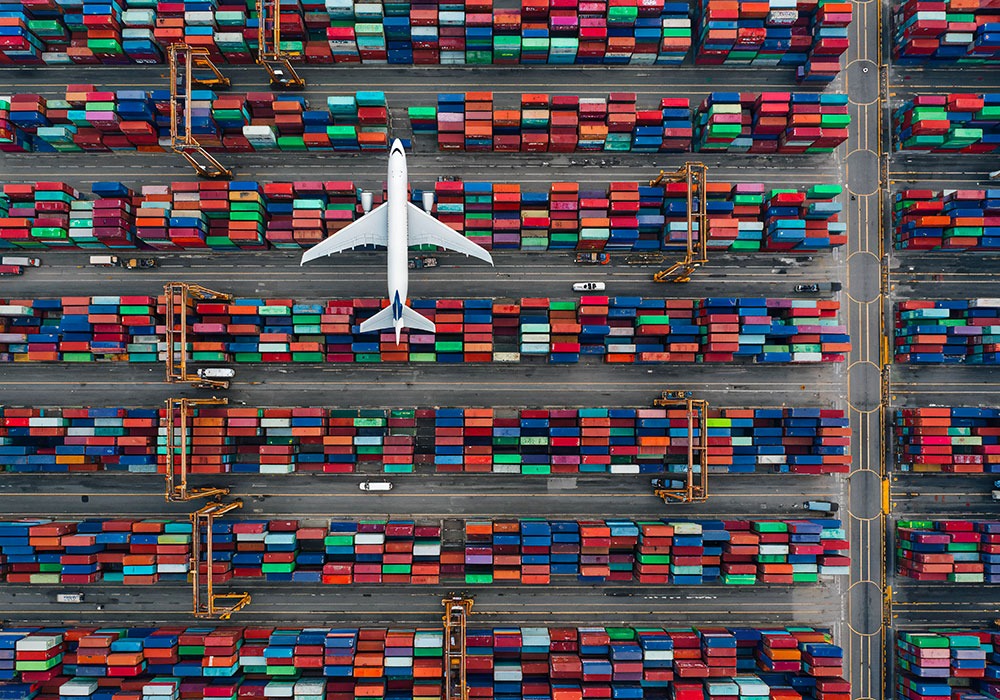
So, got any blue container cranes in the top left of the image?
No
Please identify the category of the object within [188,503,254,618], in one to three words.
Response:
container crane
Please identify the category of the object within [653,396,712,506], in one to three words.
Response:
container crane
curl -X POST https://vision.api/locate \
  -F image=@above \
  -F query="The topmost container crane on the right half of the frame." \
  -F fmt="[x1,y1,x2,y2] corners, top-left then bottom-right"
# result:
[652,161,711,286]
